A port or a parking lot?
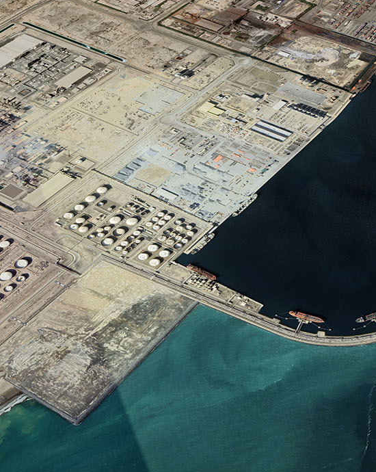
port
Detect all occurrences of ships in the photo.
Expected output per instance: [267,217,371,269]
[190,232,215,255]
[360,80,373,93]
[288,309,324,323]
[188,262,217,280]
[231,193,258,217]
[355,312,376,322]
